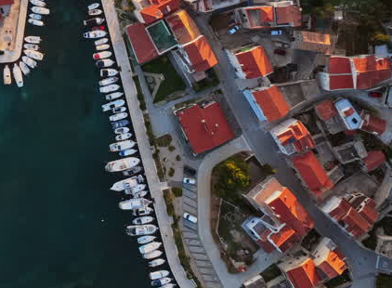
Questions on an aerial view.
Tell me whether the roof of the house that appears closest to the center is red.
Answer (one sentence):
Yes, the roof of the house that appears closest to the center is red.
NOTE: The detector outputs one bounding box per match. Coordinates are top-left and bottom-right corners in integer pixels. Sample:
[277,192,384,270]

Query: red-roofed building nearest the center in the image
[176,101,234,152]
